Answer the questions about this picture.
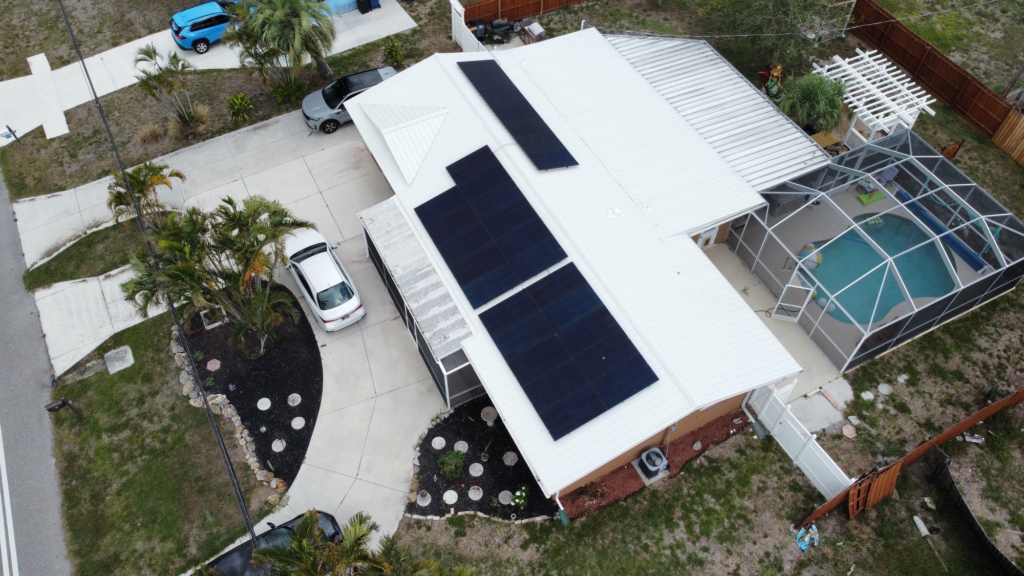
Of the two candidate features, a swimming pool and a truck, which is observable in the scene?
swimming pool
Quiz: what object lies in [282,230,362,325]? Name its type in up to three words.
car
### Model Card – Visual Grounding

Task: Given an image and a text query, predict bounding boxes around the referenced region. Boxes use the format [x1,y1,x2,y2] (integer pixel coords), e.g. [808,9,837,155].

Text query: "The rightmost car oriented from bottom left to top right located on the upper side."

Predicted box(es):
[297,65,391,133]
